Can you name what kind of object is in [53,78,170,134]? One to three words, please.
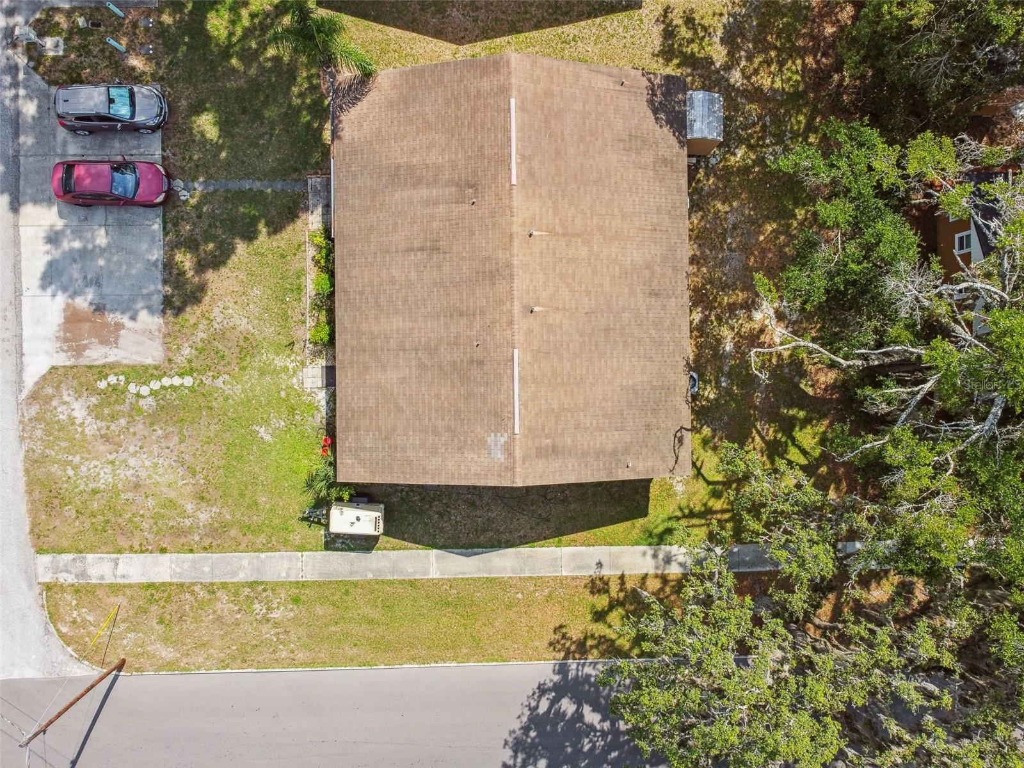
car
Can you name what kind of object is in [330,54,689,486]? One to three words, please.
house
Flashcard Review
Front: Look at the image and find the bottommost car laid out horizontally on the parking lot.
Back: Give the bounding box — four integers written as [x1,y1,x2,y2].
[52,153,173,207]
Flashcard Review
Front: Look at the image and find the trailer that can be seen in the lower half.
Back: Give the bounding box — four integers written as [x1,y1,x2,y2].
[307,500,385,537]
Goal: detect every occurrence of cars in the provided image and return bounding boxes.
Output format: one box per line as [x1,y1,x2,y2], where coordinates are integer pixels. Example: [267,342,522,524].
[53,78,170,134]
[52,153,173,207]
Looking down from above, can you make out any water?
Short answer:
No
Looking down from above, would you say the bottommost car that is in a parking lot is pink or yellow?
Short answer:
pink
